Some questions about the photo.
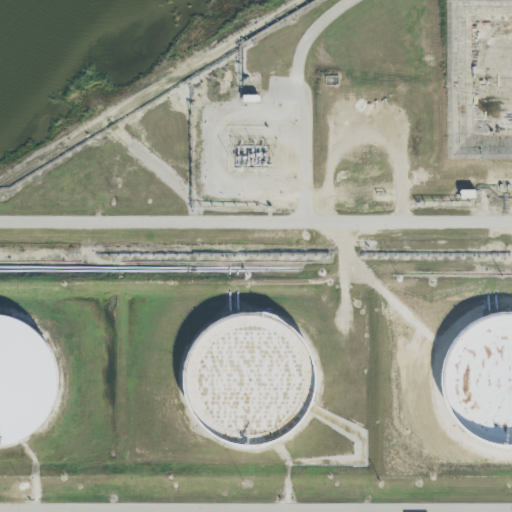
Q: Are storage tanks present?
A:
Yes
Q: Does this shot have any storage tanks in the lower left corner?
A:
Yes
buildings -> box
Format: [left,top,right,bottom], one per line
[460,189,477,201]
[242,94,262,106]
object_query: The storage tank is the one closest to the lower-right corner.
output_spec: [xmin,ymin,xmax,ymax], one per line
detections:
[441,312,512,450]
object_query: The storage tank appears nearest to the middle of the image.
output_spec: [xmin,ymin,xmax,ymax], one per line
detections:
[181,312,318,450]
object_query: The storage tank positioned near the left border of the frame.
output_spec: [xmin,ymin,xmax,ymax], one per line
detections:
[0,314,61,452]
